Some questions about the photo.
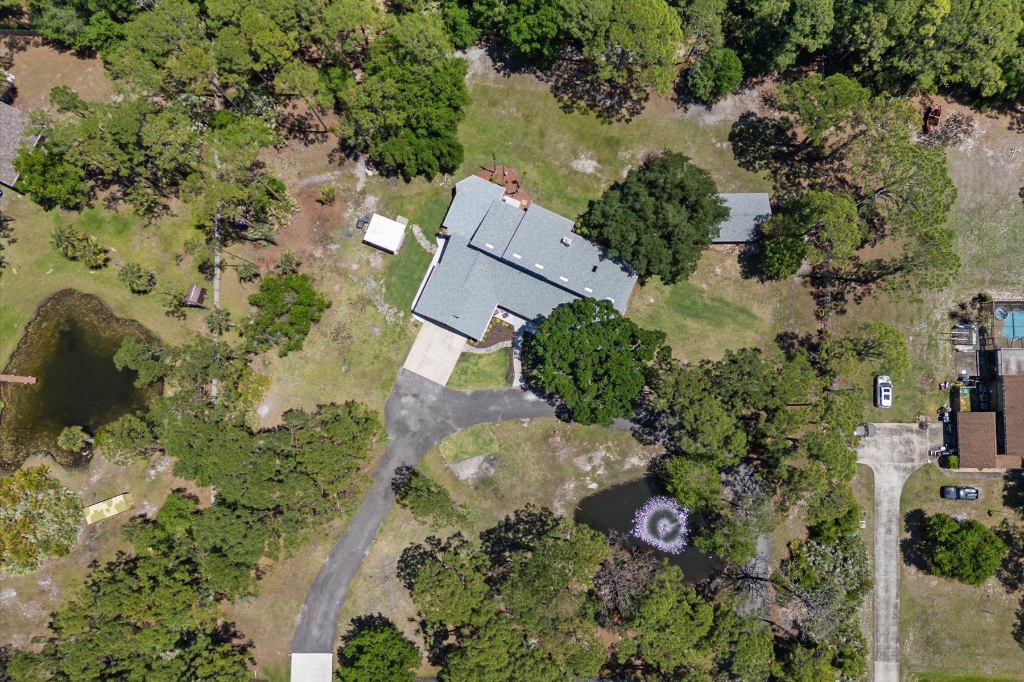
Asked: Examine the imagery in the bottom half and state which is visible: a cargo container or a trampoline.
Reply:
cargo container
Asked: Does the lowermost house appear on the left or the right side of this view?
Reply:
right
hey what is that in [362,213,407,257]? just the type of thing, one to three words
shed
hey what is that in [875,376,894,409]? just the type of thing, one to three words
car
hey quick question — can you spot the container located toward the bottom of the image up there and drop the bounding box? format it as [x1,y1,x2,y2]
[82,490,138,524]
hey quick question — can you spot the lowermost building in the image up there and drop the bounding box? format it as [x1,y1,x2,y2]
[949,349,1024,468]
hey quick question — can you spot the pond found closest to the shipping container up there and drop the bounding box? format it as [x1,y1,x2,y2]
[0,289,167,476]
